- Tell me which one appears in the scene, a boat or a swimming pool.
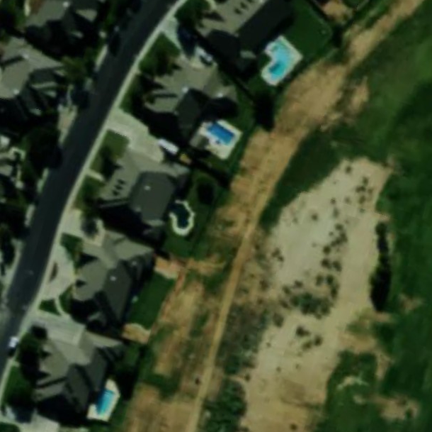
swimming pool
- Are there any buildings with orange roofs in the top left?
No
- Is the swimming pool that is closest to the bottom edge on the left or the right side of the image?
left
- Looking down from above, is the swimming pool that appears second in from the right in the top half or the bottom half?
top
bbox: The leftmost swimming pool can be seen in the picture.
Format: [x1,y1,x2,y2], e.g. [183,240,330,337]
[86,379,119,422]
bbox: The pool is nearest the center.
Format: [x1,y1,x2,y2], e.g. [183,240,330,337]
[169,199,195,235]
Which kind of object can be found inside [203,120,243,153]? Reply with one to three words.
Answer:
swimming pool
